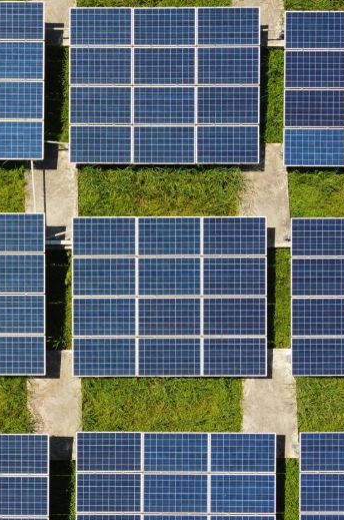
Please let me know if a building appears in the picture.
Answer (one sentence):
No, I find no building anywhere in the image.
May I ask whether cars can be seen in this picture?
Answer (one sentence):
No, there isn't any car down there.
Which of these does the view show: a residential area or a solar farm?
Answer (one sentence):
This looks like a solar farm.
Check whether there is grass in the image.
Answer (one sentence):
Yes, grass can be seen from above here.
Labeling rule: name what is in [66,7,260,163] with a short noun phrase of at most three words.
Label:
solar array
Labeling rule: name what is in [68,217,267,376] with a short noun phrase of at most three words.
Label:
solar array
